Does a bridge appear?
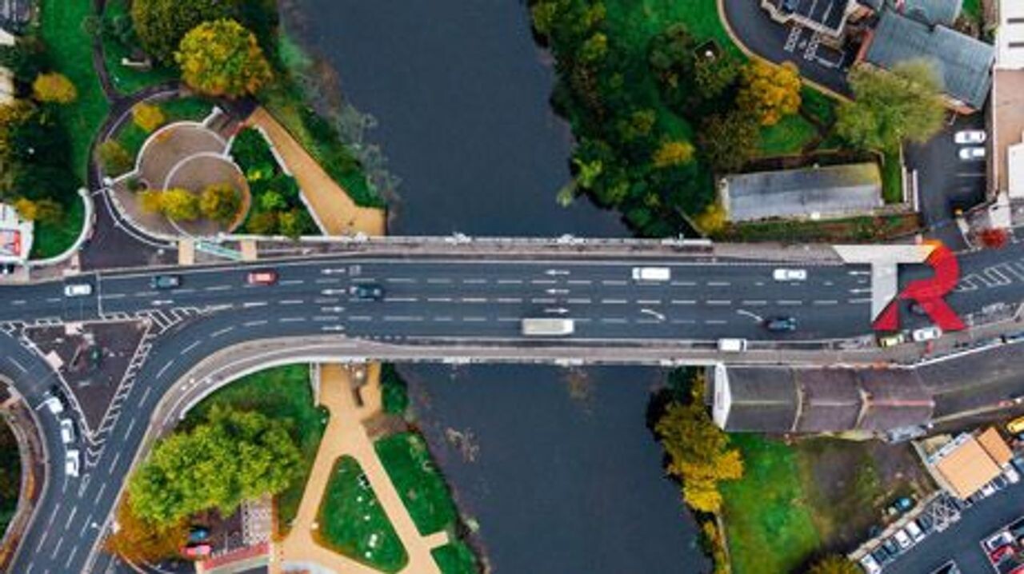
Yes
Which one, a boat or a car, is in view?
car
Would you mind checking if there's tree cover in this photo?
Yes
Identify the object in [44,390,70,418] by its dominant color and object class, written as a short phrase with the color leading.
white vehicle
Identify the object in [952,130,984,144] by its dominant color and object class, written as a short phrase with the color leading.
white car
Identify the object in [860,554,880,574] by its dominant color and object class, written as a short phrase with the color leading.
white car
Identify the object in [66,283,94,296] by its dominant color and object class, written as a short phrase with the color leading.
white vehicle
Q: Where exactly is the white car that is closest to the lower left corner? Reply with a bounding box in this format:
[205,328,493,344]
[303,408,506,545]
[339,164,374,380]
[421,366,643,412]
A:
[66,447,83,477]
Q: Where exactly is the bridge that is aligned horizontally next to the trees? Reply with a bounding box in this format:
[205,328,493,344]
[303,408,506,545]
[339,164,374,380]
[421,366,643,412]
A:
[340,231,730,369]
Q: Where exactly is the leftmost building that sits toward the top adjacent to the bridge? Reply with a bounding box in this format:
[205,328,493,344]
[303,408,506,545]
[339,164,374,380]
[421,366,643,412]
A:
[719,162,890,224]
